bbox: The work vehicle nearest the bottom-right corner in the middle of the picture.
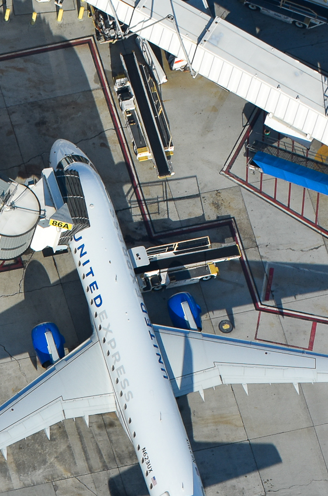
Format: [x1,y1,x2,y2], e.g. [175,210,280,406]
[134,234,243,298]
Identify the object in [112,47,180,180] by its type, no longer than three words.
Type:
work vehicle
